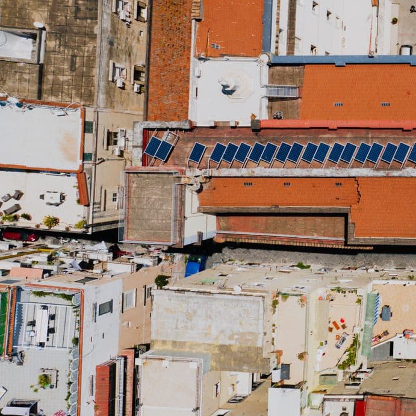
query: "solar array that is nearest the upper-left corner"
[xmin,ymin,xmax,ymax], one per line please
[141,131,179,167]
